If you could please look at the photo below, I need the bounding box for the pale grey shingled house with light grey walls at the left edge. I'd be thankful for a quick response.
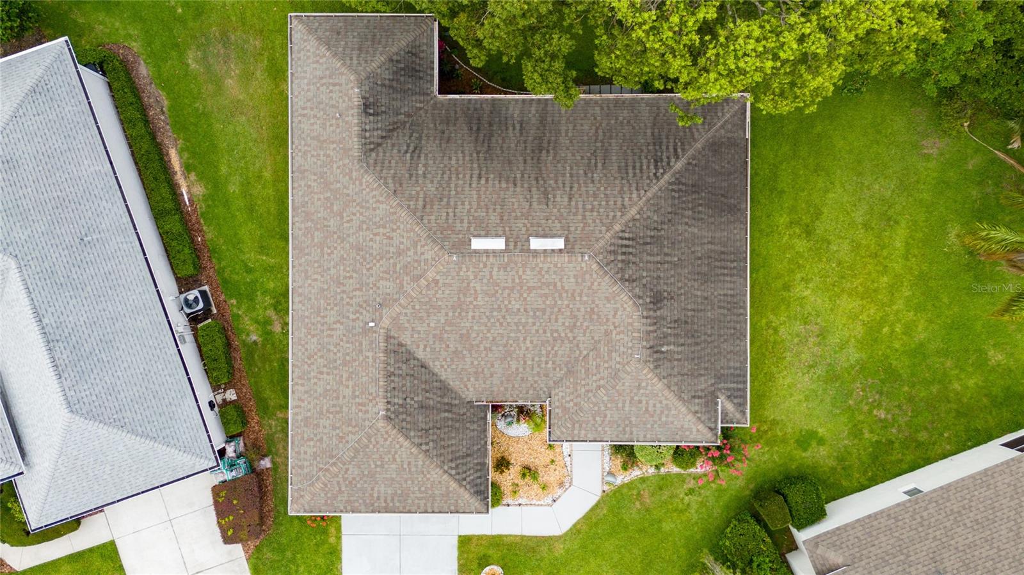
[0,37,239,531]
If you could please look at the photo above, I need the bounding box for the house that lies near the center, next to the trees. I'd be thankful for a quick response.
[289,14,749,514]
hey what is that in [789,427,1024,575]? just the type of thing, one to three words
house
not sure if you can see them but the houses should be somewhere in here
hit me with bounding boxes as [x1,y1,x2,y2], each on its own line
[0,37,239,531]
[289,14,749,514]
[789,427,1024,575]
